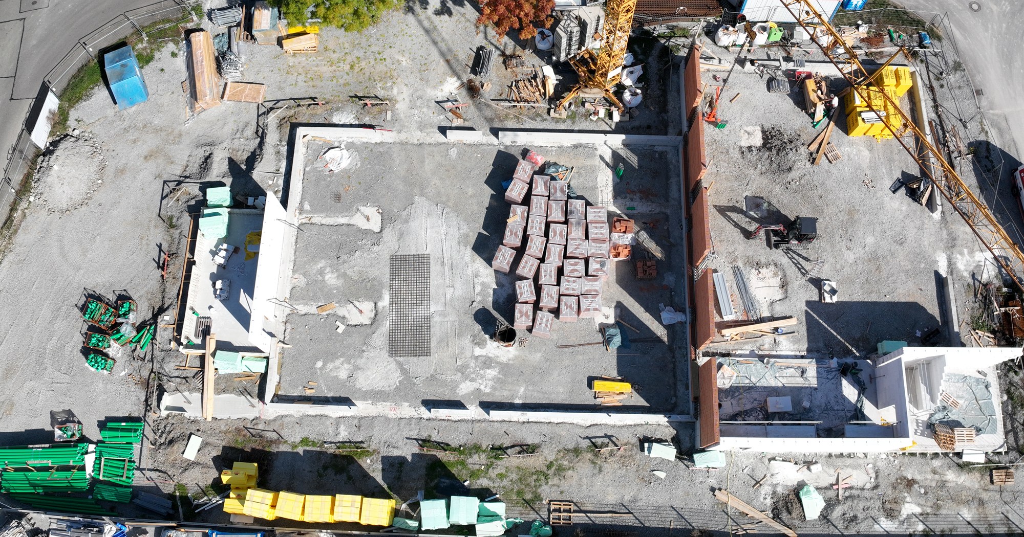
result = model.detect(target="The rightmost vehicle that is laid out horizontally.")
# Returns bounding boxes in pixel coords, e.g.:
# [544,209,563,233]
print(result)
[745,214,816,248]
